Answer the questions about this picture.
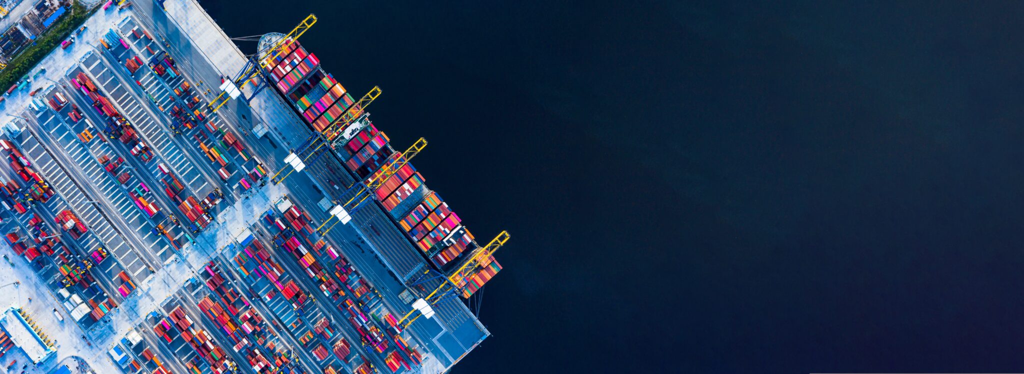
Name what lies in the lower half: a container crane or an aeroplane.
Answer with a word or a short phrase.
container crane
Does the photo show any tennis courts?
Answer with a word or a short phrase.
No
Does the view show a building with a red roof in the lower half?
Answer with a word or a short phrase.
No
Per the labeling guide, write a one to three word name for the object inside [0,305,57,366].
toll station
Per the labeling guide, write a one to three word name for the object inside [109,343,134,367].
building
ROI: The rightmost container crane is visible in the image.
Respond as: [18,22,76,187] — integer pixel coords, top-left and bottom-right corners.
[398,230,511,332]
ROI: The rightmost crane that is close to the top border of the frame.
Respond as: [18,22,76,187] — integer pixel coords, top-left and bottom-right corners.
[205,12,319,113]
